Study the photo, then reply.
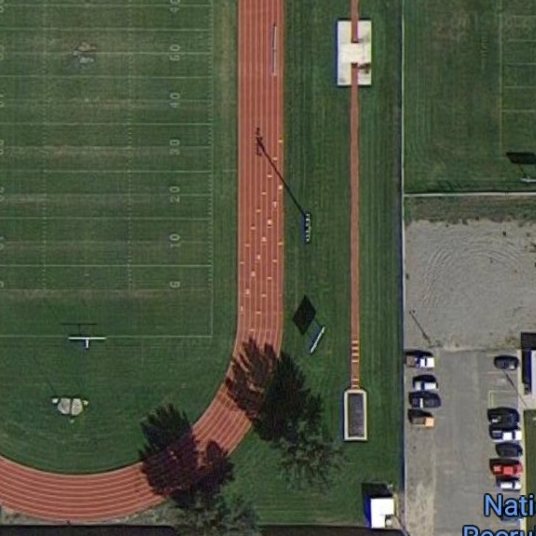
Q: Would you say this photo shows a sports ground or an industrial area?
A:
sports ground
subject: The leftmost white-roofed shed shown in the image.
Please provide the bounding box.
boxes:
[367,496,395,528]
